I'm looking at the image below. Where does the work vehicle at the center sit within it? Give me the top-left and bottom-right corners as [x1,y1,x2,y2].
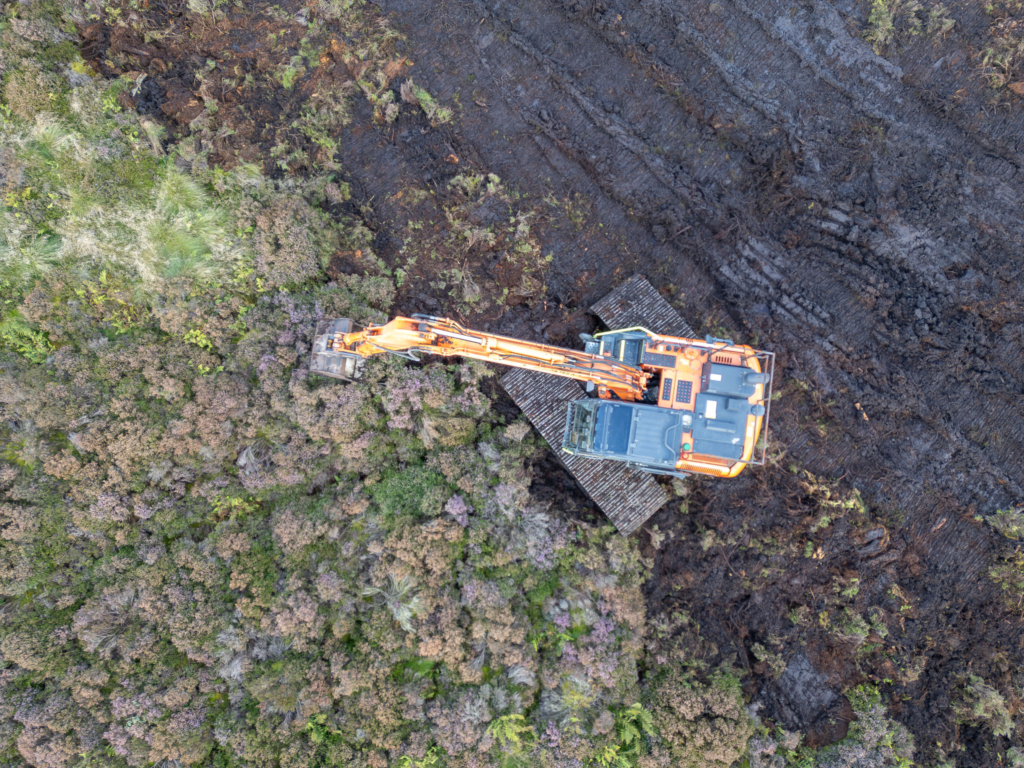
[309,275,776,537]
